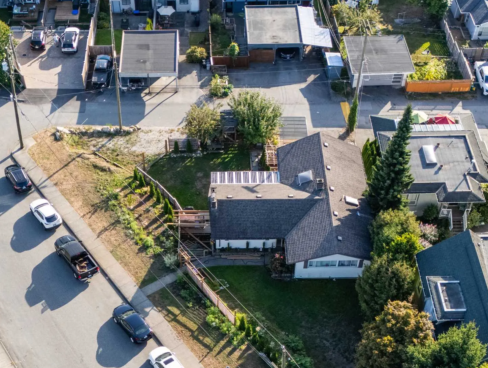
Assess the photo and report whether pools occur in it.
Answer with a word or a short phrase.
No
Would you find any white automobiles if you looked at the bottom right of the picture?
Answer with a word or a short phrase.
No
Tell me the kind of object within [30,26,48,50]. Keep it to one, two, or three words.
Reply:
car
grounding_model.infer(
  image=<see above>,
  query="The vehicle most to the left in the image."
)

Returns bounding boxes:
[1,161,32,196]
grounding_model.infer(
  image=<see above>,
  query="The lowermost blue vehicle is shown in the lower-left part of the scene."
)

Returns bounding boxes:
[111,298,155,347]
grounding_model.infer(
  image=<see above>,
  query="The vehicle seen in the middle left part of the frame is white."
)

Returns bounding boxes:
[27,195,62,234]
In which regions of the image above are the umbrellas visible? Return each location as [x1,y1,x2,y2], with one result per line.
[157,6,175,18]
[434,104,462,128]
[413,105,432,127]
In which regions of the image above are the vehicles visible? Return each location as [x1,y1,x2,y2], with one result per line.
[54,233,99,285]
[62,29,80,54]
[279,47,296,61]
[147,342,183,368]
[111,298,155,347]
[474,61,488,96]
[27,195,62,234]
[30,26,48,50]
[1,161,32,196]
[90,56,111,88]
